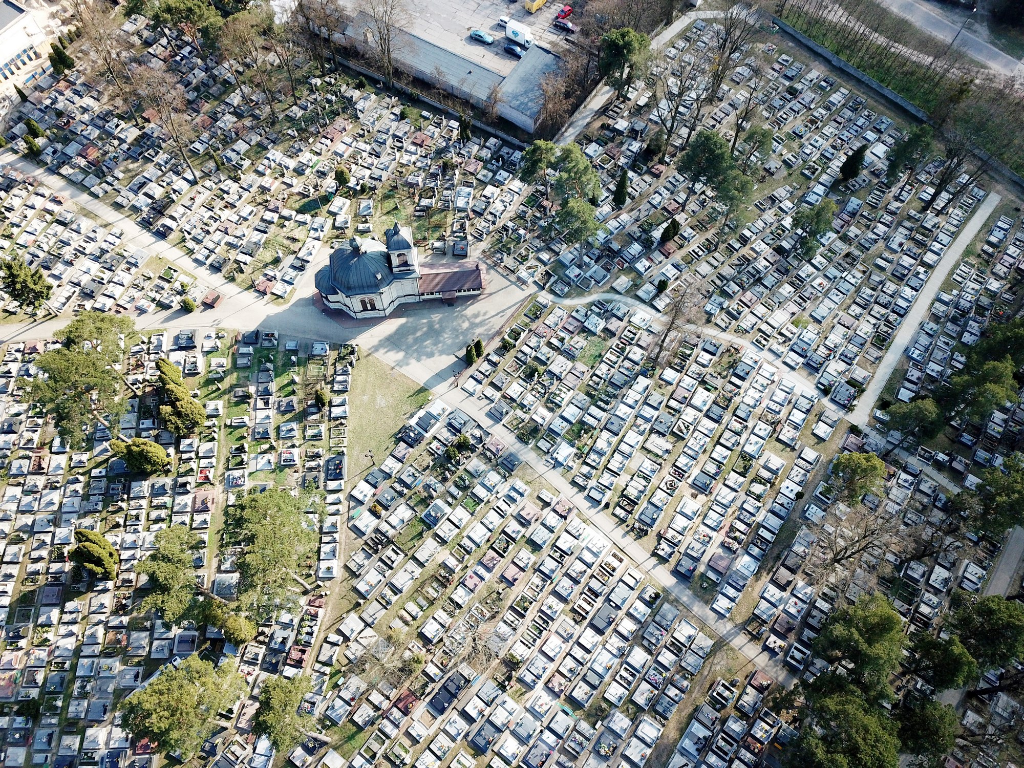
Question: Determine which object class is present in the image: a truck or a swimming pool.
truck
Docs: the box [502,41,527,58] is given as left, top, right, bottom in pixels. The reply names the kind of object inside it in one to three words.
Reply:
car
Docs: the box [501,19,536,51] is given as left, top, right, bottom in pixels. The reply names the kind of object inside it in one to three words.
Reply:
truck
